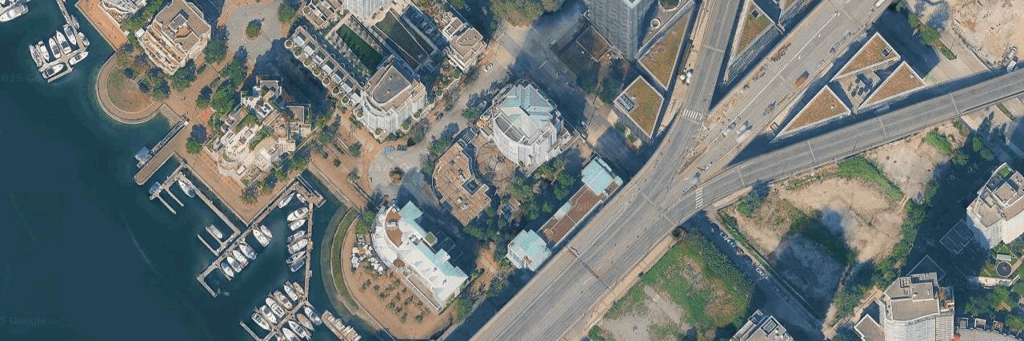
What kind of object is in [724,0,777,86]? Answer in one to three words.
building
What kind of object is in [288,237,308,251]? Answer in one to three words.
boat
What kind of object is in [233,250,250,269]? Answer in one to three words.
boat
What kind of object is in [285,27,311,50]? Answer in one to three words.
house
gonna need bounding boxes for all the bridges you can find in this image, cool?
[470,0,1024,341]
